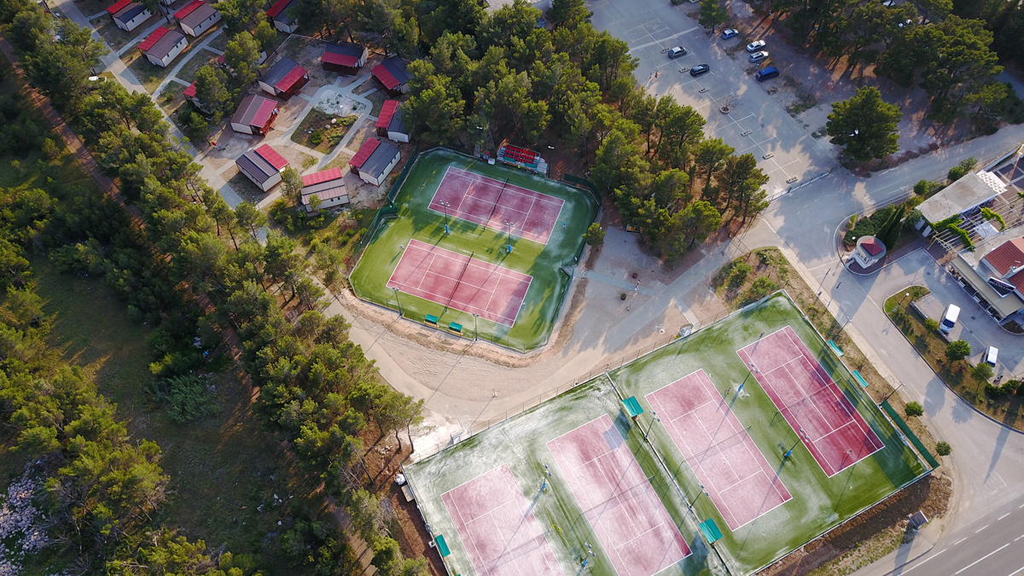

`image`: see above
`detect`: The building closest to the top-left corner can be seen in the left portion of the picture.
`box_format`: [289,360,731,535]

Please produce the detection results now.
[106,0,156,28]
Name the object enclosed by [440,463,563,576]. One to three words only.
tennis court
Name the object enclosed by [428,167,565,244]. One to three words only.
tennis court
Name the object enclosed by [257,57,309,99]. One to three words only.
building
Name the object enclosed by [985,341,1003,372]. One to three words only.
vehicle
